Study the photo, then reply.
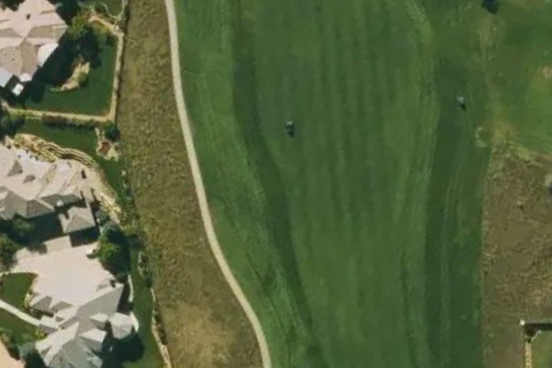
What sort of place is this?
golf course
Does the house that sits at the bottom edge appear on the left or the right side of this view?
left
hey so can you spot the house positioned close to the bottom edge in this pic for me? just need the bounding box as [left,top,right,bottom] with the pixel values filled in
[31,266,137,368]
